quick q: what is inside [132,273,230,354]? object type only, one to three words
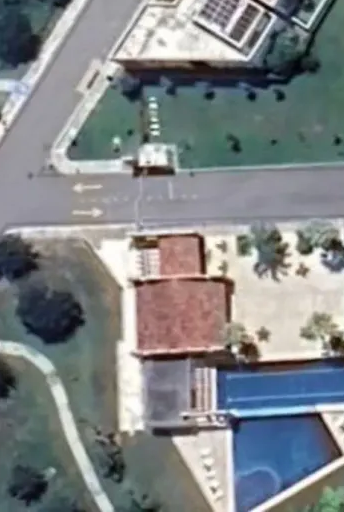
building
